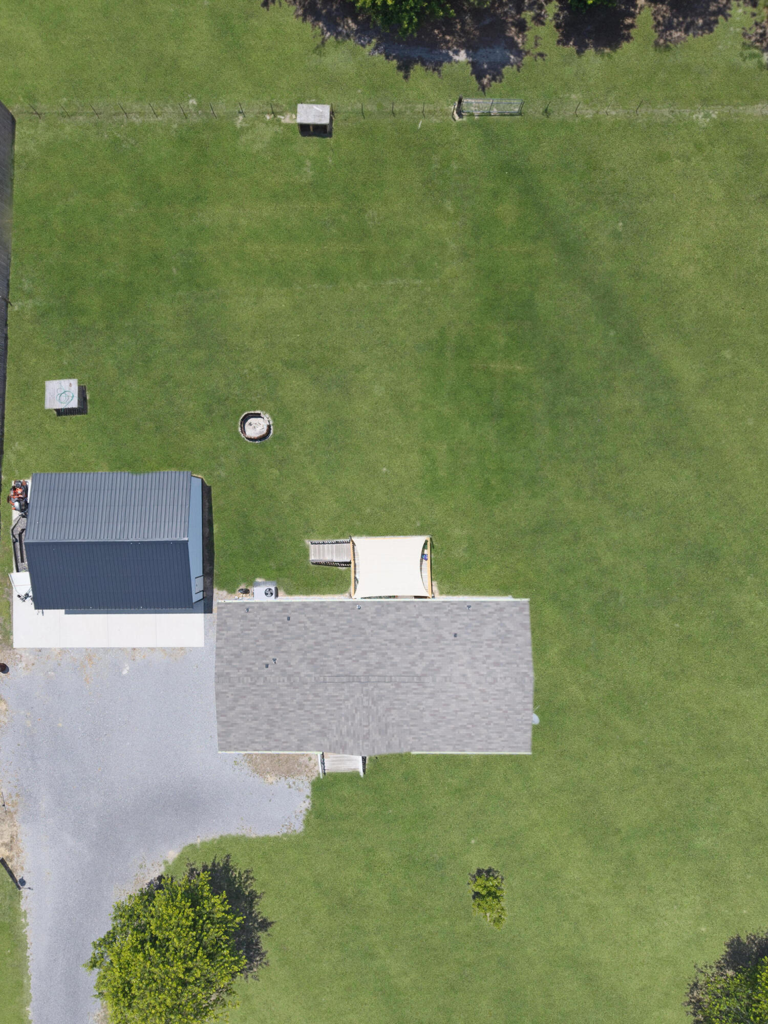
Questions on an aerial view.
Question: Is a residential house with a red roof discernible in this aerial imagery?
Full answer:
No, I find no residential house with a red roof anywhere in the image.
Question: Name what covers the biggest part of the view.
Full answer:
What you mostly see from above here is grass.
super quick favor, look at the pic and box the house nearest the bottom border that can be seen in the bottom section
[214,592,535,757]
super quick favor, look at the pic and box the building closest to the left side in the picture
[23,471,207,610]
